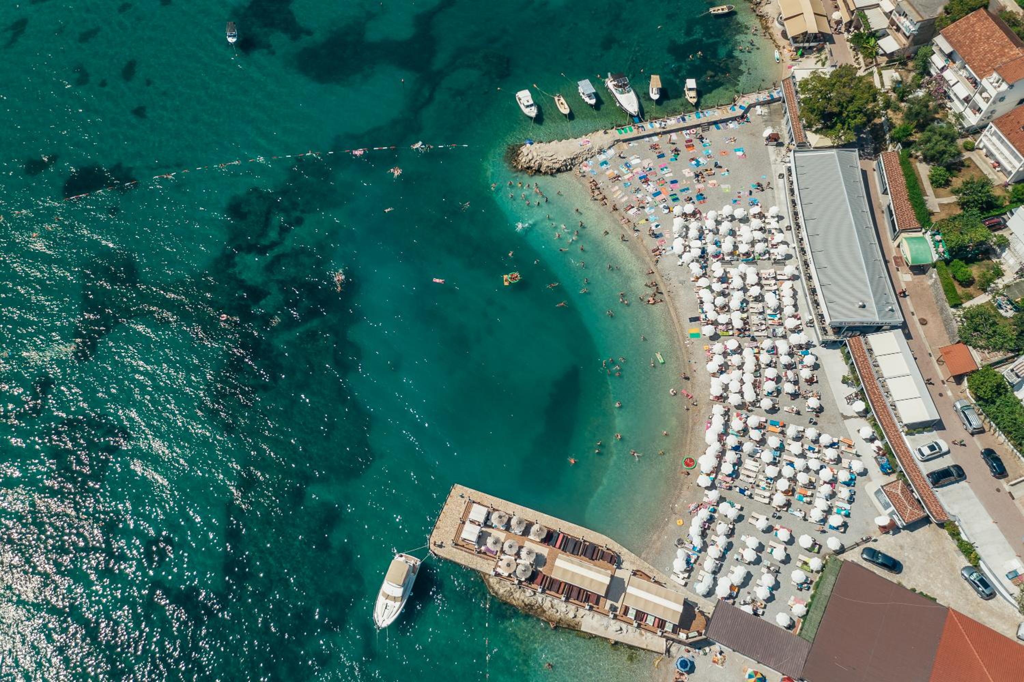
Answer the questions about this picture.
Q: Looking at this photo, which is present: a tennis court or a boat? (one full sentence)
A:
This aerial view contains a boat.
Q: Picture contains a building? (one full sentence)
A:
Yes, the frame does contain a building.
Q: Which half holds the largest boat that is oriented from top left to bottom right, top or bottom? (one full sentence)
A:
It is in the top half that the largest boat that is oriented from top left to bottom right appears.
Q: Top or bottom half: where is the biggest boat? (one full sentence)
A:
The bottom half of the photo is where the biggest boat is.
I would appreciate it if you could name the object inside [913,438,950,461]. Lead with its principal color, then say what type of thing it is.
white car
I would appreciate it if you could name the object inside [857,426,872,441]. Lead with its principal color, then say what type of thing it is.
white umbrella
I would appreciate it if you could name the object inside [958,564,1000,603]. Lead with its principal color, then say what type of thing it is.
gray car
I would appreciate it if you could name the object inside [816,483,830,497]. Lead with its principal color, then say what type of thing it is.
white umbrella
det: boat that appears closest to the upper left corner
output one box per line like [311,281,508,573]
[224,16,237,45]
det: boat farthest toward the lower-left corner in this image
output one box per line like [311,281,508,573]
[374,548,422,629]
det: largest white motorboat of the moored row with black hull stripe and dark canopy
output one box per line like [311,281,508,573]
[601,68,638,117]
